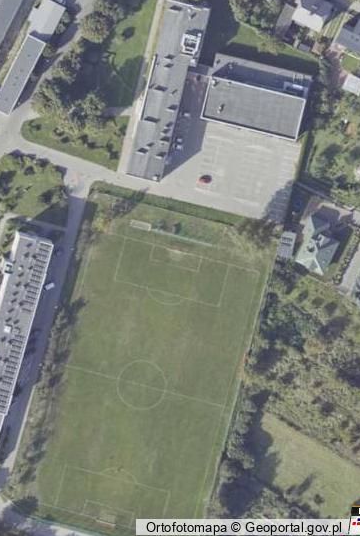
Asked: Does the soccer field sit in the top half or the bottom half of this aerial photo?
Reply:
bottom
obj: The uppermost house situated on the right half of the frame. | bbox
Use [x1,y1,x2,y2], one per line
[292,0,335,32]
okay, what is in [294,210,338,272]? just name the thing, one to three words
house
